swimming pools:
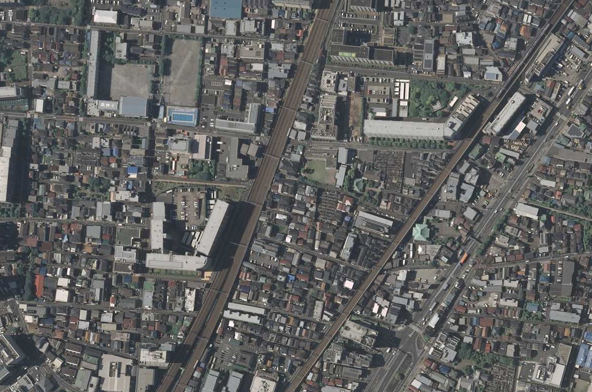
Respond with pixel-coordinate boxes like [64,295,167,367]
[167,108,198,127]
